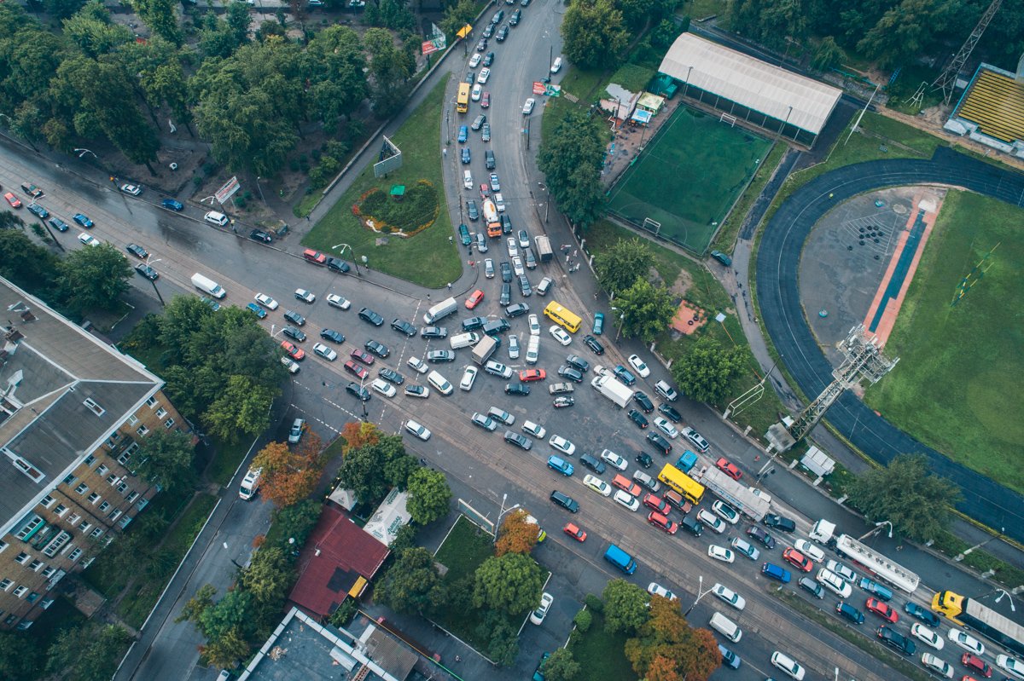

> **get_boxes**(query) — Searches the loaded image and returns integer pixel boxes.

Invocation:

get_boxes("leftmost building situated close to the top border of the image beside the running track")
[655,34,844,150]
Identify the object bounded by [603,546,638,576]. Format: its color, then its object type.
blue van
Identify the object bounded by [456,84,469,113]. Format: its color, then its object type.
yellow vehicle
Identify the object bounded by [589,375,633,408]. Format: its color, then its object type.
white truck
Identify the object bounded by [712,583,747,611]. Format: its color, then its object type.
white car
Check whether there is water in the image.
No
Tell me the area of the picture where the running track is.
right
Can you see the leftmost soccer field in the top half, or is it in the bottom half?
top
